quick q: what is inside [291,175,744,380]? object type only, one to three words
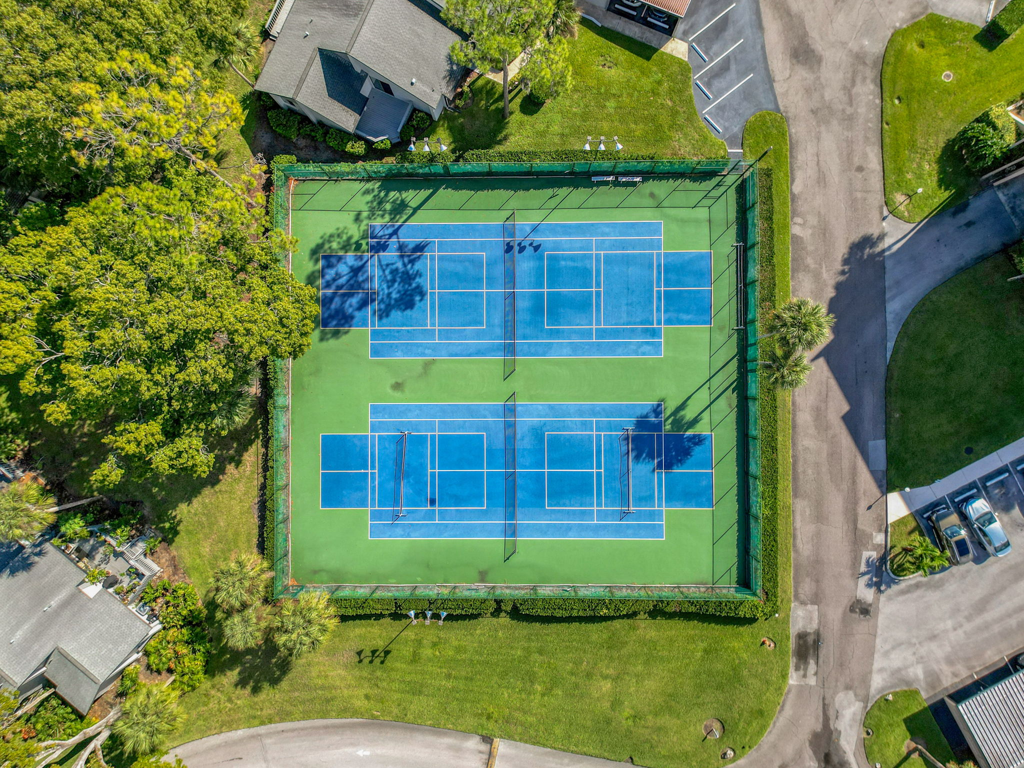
tennis court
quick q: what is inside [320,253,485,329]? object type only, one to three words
sports court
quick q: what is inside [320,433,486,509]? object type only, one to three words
sports court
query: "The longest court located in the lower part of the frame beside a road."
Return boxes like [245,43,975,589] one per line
[289,380,746,586]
